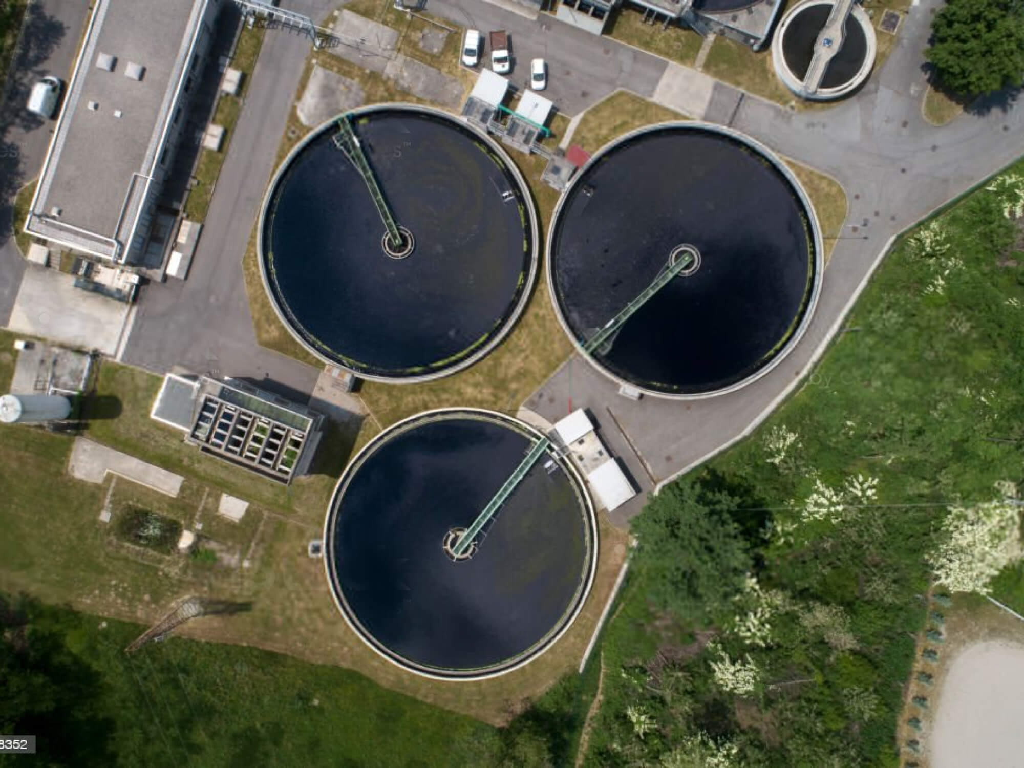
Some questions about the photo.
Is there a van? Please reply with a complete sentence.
Yes, the picture does show a van.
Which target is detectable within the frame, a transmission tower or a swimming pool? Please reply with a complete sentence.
Visible in the photo is a transmission tower.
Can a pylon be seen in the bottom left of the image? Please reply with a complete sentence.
Yes, there is a pylon in the bottom left of the image.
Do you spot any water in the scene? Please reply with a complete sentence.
Yes, the picture does contain water.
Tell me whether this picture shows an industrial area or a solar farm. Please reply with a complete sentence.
What you see here is an industrial area.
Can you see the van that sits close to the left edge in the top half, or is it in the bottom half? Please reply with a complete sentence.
The van that sits close to the left edge is in the top half of the image.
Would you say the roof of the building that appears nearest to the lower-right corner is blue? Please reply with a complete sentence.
No, from above the roof of the building that appears nearest to the lower-right corner looks white.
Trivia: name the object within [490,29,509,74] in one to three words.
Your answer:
vehicle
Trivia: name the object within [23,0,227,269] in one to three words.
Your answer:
building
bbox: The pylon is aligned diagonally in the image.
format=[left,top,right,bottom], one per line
[125,593,210,652]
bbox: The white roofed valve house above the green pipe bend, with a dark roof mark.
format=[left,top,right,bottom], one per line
[516,90,553,129]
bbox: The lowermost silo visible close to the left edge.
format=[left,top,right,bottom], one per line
[0,393,67,424]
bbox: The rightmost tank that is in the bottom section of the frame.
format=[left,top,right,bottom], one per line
[324,407,598,681]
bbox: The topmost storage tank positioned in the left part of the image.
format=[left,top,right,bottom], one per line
[258,103,539,384]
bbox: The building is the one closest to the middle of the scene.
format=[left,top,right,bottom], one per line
[554,408,593,444]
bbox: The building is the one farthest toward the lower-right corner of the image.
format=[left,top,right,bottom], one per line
[588,458,636,511]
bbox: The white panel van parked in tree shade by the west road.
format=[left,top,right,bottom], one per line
[28,75,60,117]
